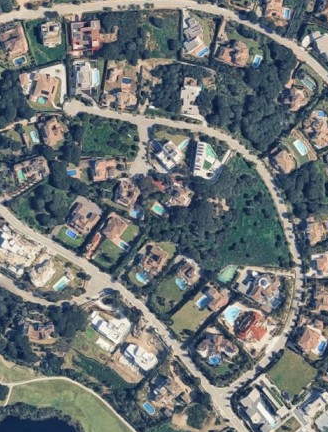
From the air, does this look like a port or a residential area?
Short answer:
residential area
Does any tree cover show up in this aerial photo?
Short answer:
Yes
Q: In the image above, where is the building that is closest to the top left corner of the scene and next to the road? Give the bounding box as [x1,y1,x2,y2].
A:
[0,26,27,57]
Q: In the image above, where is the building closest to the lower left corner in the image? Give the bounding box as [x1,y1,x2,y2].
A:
[26,322,54,339]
